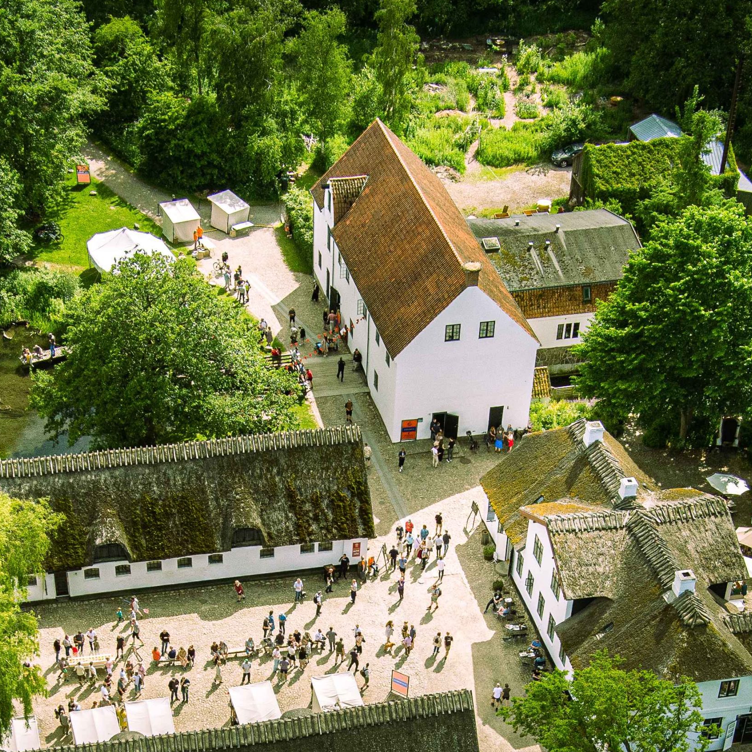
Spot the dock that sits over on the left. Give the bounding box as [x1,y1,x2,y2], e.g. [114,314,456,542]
[17,343,78,371]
